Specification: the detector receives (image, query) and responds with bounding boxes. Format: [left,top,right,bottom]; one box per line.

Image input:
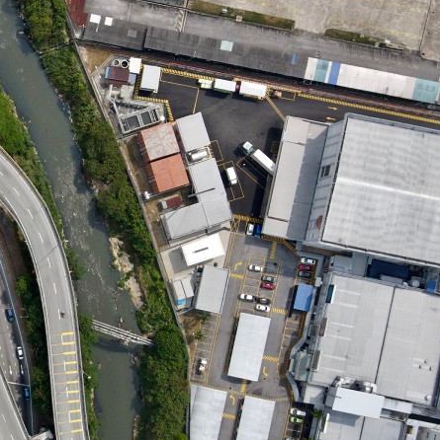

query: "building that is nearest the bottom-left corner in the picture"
[171,276,193,300]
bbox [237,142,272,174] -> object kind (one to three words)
truck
